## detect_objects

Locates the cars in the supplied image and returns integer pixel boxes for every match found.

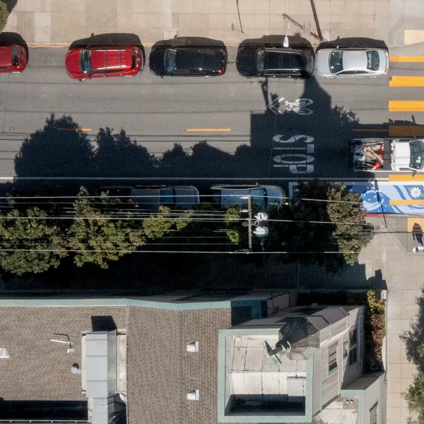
[103,179,199,213]
[236,43,315,81]
[67,43,147,81]
[151,43,230,79]
[315,44,390,81]
[209,180,287,214]
[0,43,33,75]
